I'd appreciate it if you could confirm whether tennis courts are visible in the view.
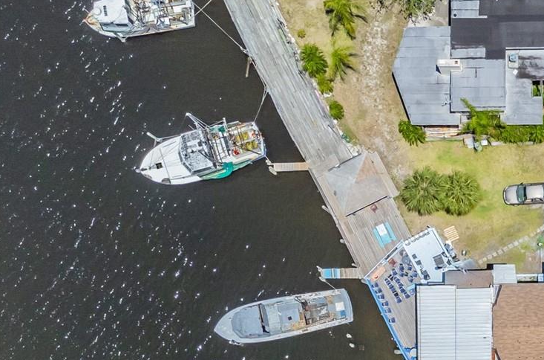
No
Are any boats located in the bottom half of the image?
Yes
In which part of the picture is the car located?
right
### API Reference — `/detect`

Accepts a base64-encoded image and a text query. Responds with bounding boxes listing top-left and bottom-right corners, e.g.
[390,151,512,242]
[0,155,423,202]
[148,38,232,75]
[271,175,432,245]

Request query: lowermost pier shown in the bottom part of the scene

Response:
[324,268,363,281]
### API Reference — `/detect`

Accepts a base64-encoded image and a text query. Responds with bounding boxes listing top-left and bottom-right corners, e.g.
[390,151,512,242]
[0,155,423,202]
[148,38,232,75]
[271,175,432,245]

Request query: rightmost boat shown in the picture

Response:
[215,288,355,345]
